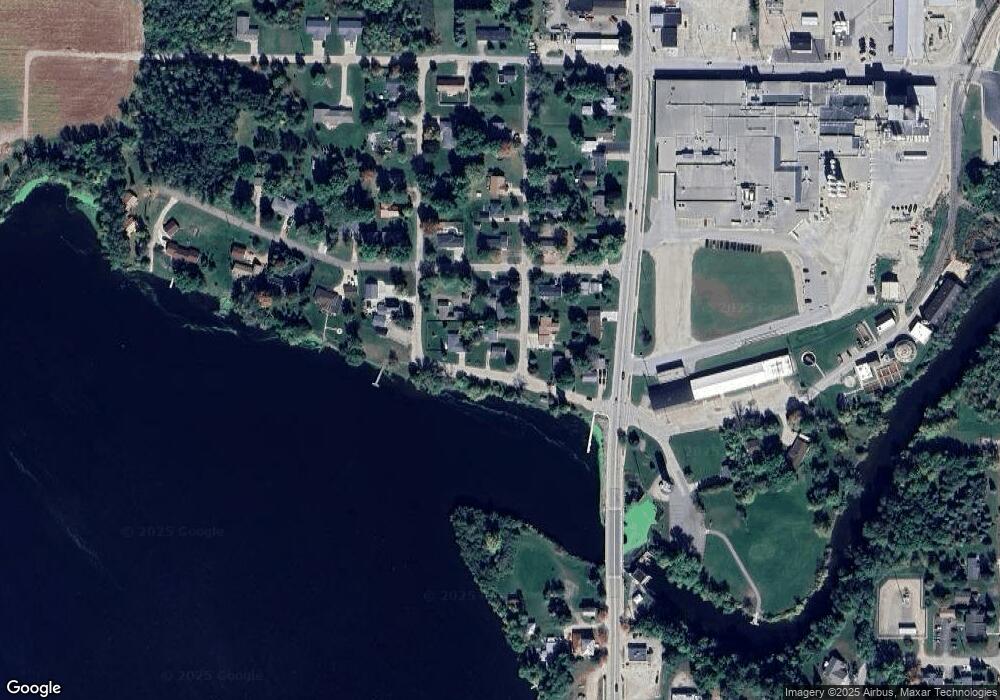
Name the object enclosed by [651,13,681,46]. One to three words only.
building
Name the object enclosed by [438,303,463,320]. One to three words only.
house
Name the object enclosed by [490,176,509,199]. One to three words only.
house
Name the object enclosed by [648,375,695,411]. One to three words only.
building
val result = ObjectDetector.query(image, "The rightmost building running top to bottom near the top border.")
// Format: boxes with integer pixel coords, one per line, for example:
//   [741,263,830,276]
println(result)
[895,0,923,58]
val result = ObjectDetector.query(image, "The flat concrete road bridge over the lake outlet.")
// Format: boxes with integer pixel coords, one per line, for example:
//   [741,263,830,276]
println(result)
[605,509,624,578]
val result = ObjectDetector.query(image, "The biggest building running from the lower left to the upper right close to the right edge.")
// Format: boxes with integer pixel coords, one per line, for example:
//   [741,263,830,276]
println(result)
[921,275,966,324]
